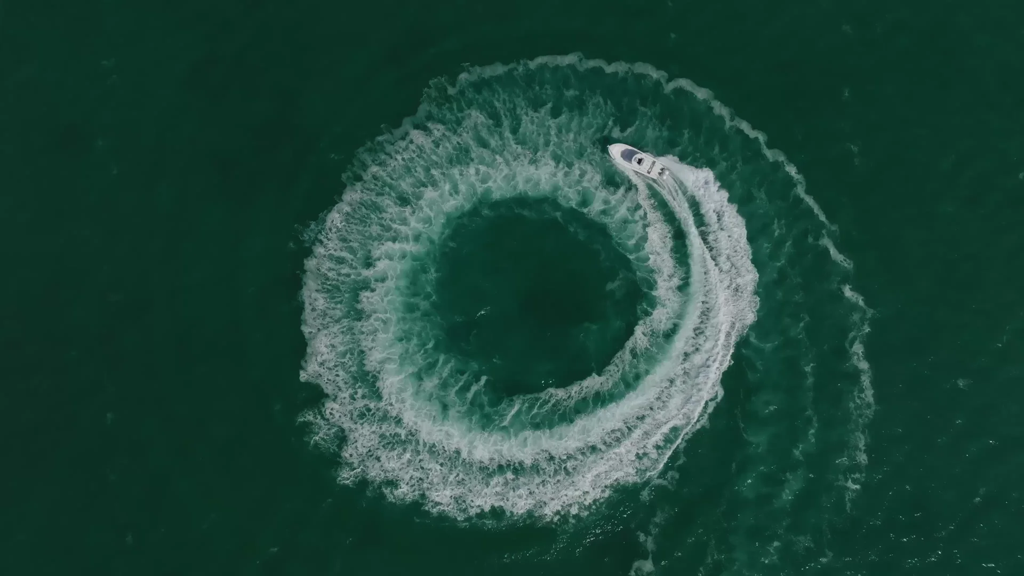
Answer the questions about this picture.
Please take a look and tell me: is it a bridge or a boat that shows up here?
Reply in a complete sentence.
Of the two, only a boat appears.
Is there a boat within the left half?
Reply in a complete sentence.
No, I can find no boat within the left half.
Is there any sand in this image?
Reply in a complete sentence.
No, no sand is visible.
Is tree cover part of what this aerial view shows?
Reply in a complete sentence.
No, the picture contains no tree cover.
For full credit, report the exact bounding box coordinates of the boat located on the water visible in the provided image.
[606,143,664,181]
